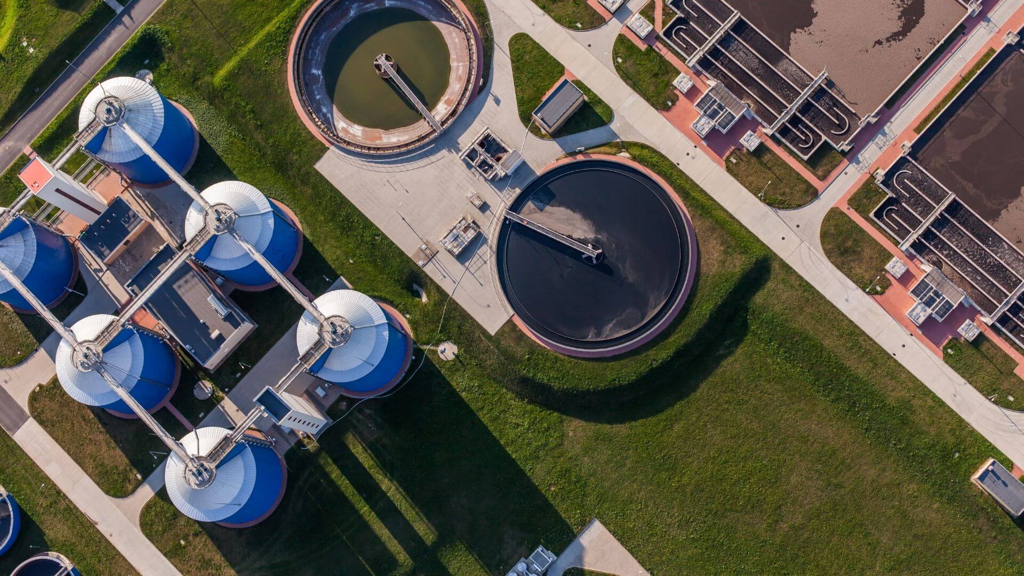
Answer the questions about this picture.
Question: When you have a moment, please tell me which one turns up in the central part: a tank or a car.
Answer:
tank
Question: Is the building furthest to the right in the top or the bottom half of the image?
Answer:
bottom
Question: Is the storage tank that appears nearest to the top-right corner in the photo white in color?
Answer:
No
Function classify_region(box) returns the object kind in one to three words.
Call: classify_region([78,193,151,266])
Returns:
building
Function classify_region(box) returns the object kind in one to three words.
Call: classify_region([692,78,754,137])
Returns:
house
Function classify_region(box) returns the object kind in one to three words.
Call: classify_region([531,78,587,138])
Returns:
building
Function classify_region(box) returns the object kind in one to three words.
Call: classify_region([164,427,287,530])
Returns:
storage tank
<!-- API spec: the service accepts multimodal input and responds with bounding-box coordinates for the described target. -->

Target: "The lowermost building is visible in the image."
[971,458,1024,517]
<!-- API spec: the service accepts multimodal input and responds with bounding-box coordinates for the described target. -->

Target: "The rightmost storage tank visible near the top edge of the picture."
[288,0,487,164]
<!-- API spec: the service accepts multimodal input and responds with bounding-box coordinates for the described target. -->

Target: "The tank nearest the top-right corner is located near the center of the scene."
[487,153,700,361]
